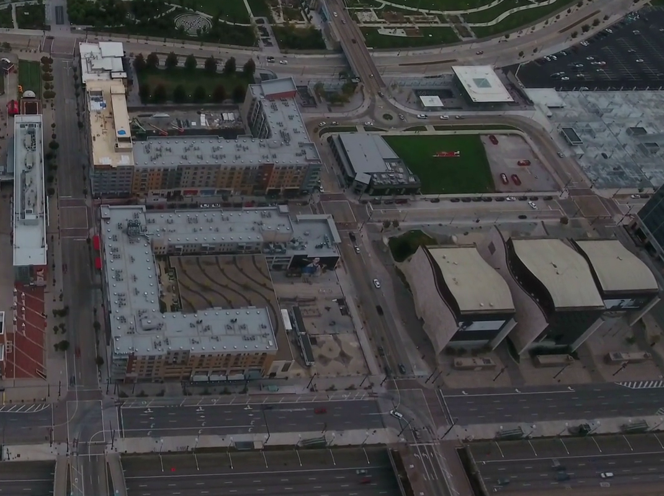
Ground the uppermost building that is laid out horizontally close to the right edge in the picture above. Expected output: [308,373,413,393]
[406,225,658,352]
